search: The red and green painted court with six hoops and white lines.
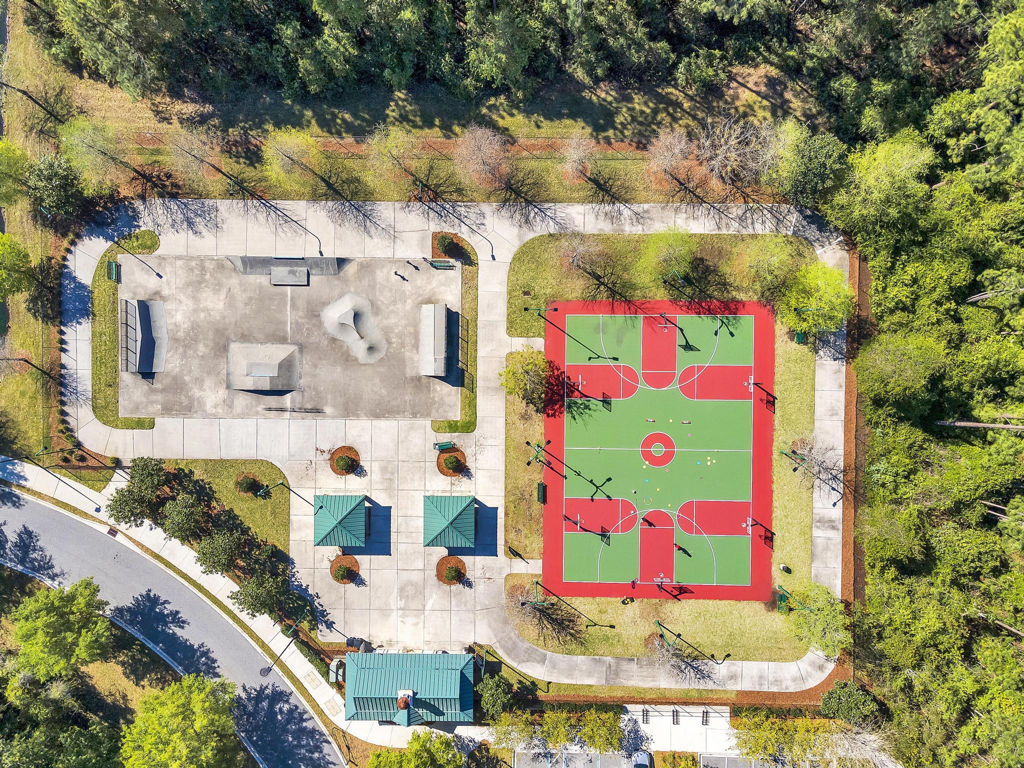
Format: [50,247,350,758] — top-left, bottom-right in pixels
[542,300,774,601]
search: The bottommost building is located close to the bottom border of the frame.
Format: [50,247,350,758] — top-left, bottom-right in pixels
[345,643,473,734]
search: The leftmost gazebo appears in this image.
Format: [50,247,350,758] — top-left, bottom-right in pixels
[313,495,367,547]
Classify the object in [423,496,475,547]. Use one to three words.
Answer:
gazebo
